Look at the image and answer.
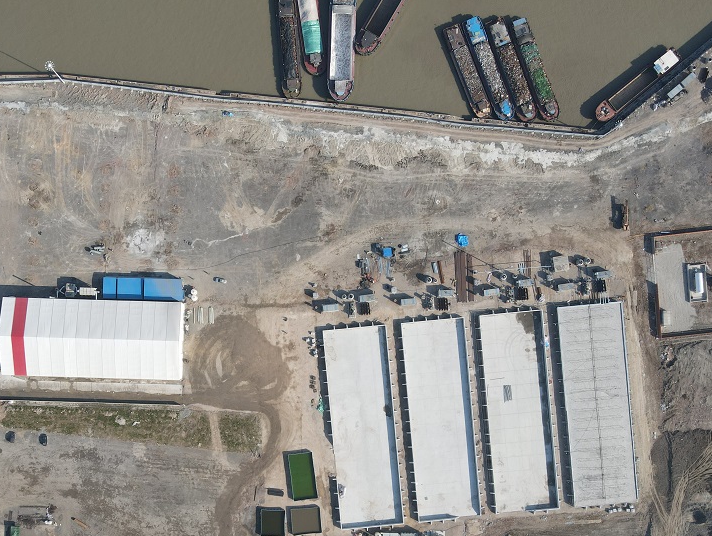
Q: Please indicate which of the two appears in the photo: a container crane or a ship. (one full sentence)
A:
The image shows a ship.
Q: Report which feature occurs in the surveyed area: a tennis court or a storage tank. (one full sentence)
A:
I can see a storage tank in this picture.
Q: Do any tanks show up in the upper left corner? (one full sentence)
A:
No, no tank can be made out in the upper left corner.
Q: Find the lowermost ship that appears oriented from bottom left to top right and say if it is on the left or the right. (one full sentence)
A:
It is on the right.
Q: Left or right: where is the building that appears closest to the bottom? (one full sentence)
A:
It is on the left.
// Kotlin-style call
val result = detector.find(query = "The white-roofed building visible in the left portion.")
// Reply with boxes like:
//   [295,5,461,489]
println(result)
[0,297,186,380]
